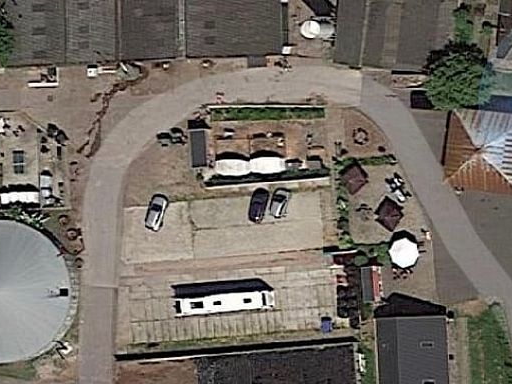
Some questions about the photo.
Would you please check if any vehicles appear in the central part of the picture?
Yes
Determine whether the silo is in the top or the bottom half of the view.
top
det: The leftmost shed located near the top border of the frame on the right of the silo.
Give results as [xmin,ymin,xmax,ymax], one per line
[335,0,465,72]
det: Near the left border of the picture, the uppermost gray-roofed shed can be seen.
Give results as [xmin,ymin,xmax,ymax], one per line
[2,0,116,67]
